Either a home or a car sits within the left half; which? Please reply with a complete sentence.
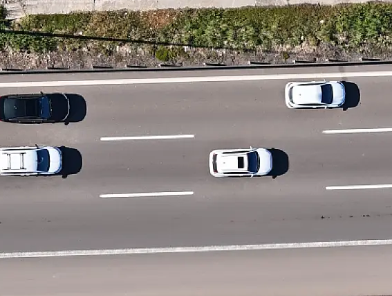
It is a car that can be seen within the left half.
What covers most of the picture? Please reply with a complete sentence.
The scene is dominated by paved ground.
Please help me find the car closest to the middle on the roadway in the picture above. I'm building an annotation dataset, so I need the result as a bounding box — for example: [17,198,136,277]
[209,146,273,180]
